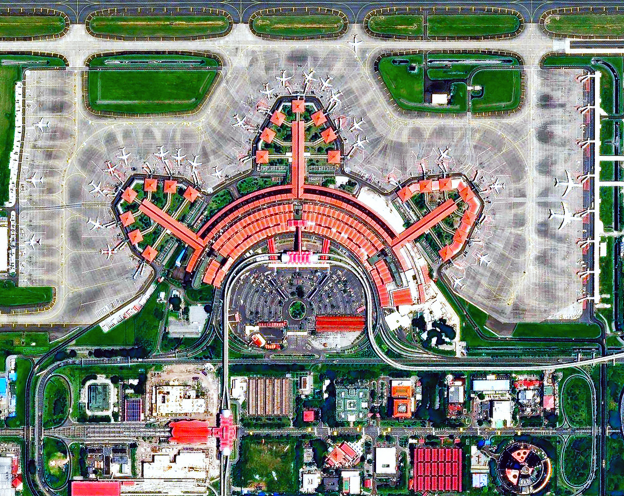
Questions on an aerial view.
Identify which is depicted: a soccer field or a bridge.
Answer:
bridge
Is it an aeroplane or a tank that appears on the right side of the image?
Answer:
aeroplane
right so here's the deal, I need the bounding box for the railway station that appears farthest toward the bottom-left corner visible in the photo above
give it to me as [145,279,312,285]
[212,408,236,457]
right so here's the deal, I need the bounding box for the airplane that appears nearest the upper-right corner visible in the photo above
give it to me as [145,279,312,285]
[555,171,582,196]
